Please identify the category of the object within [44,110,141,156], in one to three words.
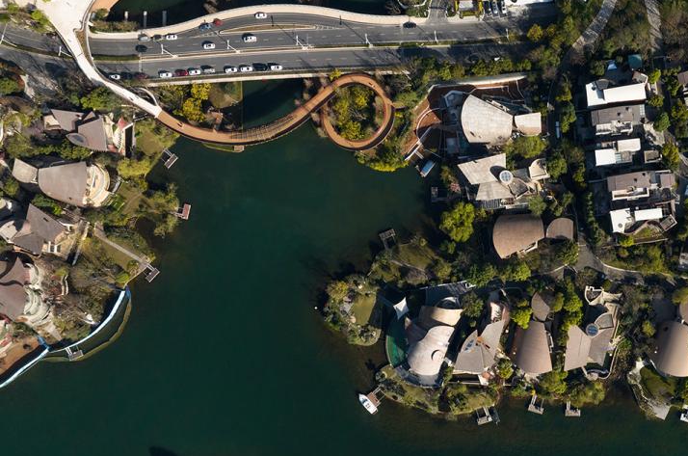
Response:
house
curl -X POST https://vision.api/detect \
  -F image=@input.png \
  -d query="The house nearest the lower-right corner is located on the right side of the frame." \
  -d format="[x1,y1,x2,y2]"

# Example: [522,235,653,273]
[646,303,688,378]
